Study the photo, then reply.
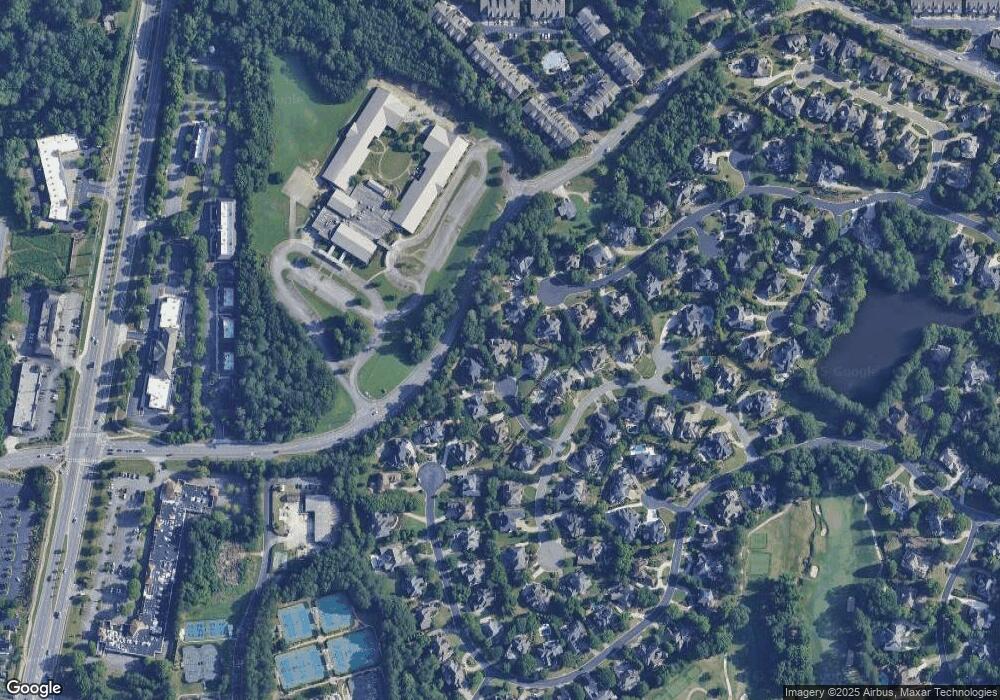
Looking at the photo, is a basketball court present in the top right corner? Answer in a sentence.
No, no basketball court is visible in the top right corner.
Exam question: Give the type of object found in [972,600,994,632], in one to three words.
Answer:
house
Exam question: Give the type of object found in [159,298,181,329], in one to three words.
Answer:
building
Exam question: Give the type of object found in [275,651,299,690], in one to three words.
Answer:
tennis court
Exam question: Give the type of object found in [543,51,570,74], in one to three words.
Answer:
swimming pool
